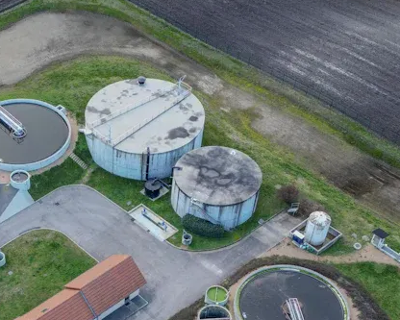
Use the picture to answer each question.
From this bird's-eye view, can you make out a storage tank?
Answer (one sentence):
Yes, a storage tank appears in the view.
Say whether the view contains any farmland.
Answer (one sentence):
Yes, farmland shows up in the scene.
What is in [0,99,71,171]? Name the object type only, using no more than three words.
water tank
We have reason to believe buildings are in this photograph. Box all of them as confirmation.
[12,255,150,320]
[372,230,390,250]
